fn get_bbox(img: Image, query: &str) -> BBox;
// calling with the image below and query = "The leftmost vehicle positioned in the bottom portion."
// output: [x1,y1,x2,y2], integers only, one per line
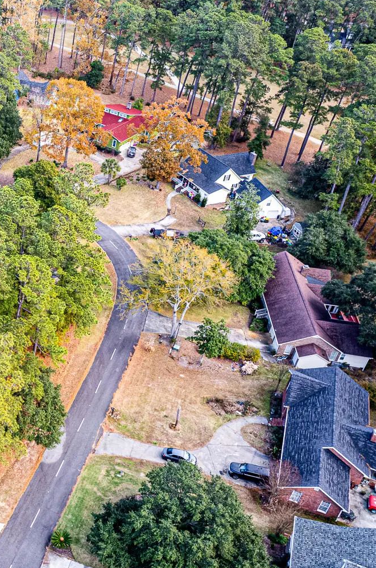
[160,445,200,469]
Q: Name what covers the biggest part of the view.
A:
trees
